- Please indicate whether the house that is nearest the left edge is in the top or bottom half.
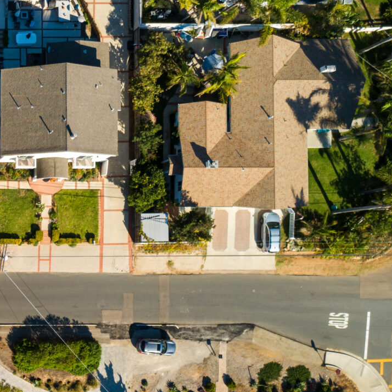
top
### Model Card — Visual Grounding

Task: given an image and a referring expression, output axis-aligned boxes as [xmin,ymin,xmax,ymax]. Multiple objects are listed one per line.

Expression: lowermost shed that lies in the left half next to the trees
[135,213,169,243]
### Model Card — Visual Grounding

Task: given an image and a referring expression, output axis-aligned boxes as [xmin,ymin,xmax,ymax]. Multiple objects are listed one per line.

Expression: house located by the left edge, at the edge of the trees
[0,38,120,180]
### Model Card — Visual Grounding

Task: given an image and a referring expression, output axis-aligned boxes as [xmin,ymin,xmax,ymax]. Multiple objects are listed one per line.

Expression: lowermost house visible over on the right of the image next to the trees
[163,37,366,208]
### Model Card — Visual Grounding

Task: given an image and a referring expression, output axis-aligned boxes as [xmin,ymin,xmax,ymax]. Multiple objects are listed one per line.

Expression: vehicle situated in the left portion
[134,337,175,356]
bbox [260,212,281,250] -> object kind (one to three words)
car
